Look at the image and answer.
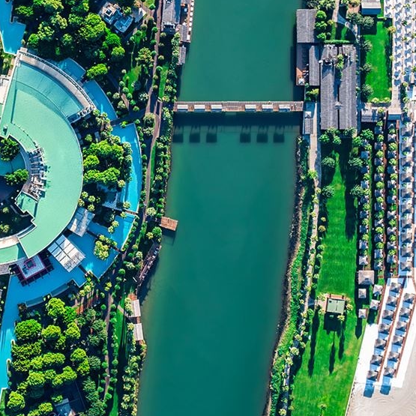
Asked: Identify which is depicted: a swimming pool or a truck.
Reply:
swimming pool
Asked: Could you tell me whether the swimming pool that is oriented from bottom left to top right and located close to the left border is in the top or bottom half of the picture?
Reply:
bottom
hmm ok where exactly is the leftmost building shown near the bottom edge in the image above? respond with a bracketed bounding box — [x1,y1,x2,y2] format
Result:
[49,381,83,416]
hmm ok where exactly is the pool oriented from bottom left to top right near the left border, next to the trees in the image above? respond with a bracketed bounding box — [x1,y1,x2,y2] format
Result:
[0,231,121,402]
